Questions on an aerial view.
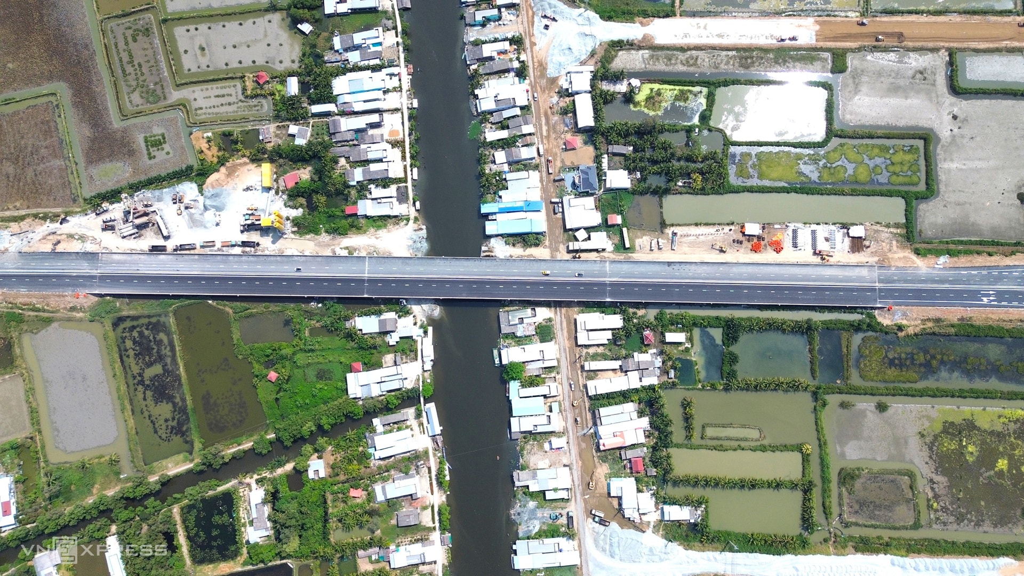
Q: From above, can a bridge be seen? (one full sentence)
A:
Yes, I can see a bridge in this picture.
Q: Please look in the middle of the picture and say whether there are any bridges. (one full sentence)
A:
Yes, the scene does show a bridge in the middle of the picture.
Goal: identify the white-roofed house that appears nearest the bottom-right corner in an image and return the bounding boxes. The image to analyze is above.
[659,503,696,522]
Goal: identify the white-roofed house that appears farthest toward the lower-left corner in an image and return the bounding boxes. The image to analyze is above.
[32,544,65,576]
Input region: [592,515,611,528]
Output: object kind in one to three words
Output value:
vehicle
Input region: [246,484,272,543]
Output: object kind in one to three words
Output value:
house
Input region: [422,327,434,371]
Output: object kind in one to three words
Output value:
building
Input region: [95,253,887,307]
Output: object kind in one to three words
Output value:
bridge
